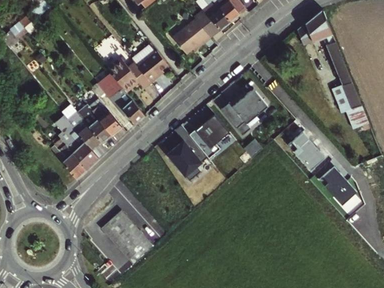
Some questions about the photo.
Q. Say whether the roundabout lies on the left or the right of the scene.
left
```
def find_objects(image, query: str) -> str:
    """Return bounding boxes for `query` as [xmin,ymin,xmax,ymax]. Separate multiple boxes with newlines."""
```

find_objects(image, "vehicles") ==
[150,108,160,118]
[144,226,155,238]
[70,190,80,200]
[246,78,256,88]
[43,278,54,283]
[2,186,10,198]
[6,228,13,239]
[220,75,230,84]
[266,18,276,27]
[106,139,116,148]
[6,201,12,212]
[195,66,205,76]
[20,282,32,288]
[66,240,71,251]
[32,202,42,210]
[314,60,322,70]
[348,214,360,222]
[51,215,61,224]
[56,201,66,210]
[232,64,245,76]
[208,86,218,96]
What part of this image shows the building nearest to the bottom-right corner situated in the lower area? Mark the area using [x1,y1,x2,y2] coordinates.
[319,168,356,208]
